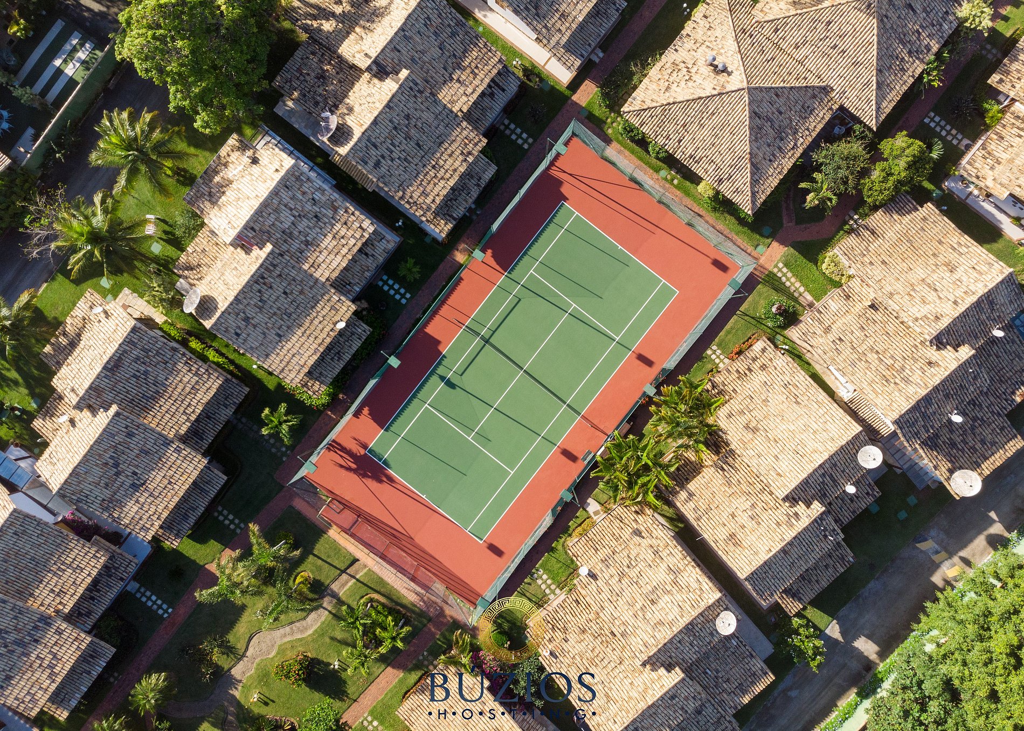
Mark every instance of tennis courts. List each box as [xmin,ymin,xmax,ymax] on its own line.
[305,138,741,609]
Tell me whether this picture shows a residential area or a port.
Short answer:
residential area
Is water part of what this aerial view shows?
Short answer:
No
